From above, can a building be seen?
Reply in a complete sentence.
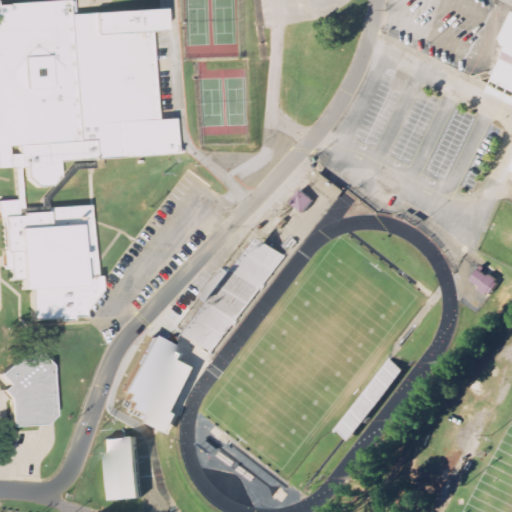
Yes, the frame does contain a building.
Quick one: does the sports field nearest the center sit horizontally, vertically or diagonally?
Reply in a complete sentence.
The sports field nearest the center is laid out diagonally.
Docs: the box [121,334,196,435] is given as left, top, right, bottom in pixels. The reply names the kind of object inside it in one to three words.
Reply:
building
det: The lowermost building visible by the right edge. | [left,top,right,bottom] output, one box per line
[468,264,497,295]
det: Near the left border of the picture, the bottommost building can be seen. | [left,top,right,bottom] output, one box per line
[0,360,62,427]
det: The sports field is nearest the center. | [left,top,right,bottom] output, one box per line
[206,236,418,470]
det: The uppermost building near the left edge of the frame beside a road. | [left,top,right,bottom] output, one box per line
[0,0,186,188]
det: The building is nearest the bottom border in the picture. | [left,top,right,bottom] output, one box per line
[104,436,141,500]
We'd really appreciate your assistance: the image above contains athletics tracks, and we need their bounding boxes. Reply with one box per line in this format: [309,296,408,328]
[180,191,456,512]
